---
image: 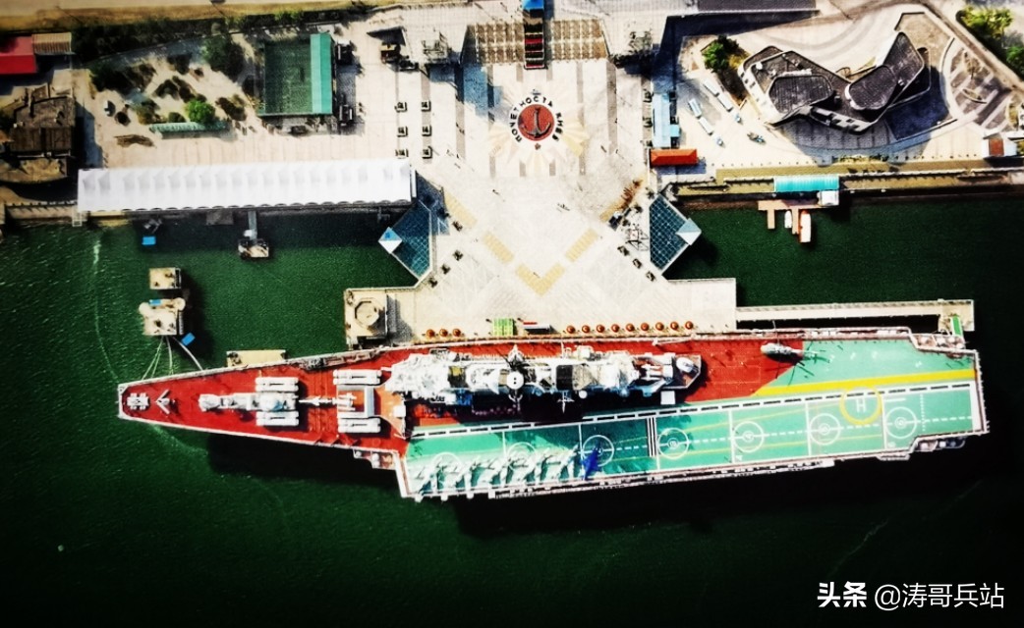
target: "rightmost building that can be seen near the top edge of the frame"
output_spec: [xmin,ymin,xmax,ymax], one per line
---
[735,30,932,135]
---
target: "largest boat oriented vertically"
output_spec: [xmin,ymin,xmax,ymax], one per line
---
[800,210,813,244]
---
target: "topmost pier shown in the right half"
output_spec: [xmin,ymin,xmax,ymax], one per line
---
[757,200,815,234]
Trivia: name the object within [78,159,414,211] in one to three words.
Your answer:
building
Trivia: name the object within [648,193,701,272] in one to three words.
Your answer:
building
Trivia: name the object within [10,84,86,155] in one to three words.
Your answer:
house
